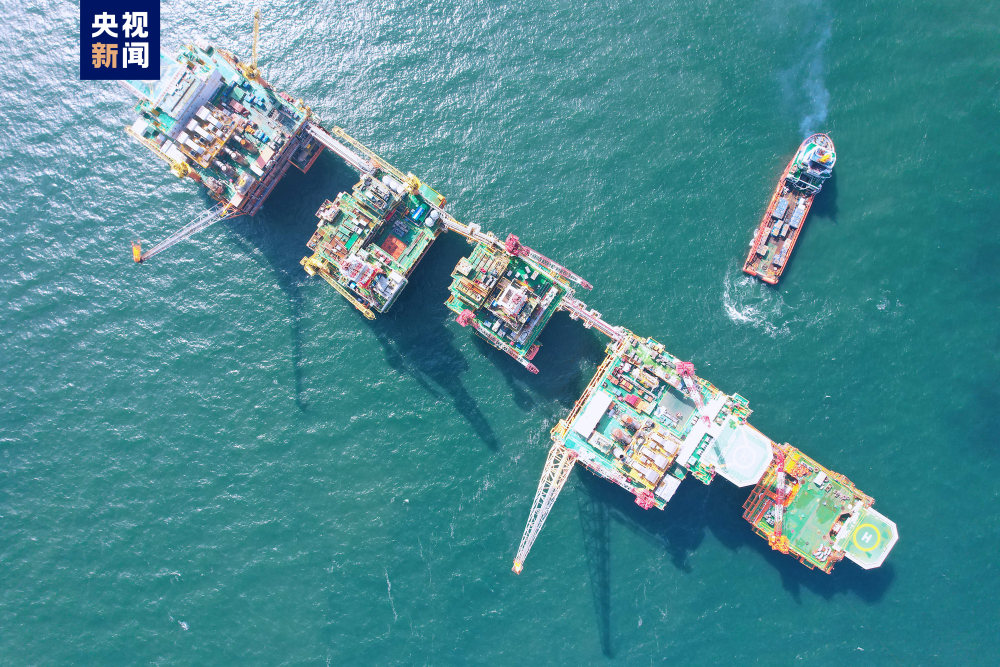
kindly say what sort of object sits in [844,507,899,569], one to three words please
helipad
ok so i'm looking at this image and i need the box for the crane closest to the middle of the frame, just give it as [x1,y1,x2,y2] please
[455,306,540,374]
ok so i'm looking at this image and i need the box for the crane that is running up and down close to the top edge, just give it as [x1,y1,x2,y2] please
[241,11,262,84]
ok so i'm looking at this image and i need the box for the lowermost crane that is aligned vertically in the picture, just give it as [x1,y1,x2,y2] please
[768,451,787,555]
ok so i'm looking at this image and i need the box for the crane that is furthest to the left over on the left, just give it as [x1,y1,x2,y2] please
[126,127,192,181]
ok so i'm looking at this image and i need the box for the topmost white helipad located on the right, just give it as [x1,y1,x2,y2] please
[701,417,773,487]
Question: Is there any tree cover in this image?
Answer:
No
